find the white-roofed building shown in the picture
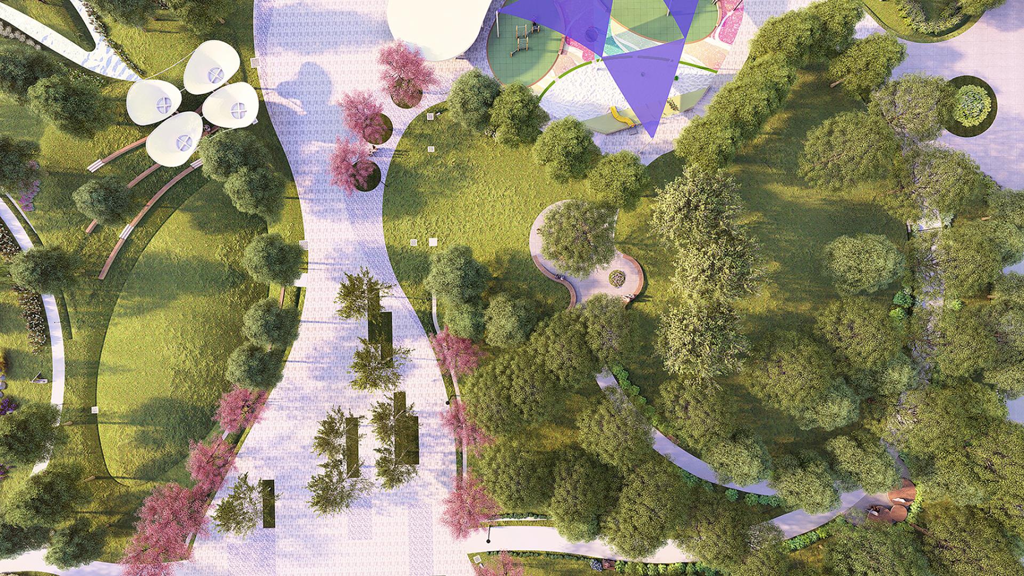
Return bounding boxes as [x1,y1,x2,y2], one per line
[387,0,493,62]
